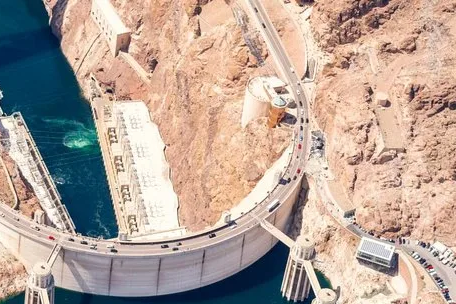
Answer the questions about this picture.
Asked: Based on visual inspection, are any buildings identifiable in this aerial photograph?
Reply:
Yes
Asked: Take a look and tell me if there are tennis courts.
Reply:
No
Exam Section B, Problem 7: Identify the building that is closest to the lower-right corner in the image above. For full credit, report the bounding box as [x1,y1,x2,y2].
[353,237,395,274]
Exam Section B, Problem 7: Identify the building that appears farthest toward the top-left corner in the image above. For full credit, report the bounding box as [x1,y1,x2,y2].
[78,0,131,55]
